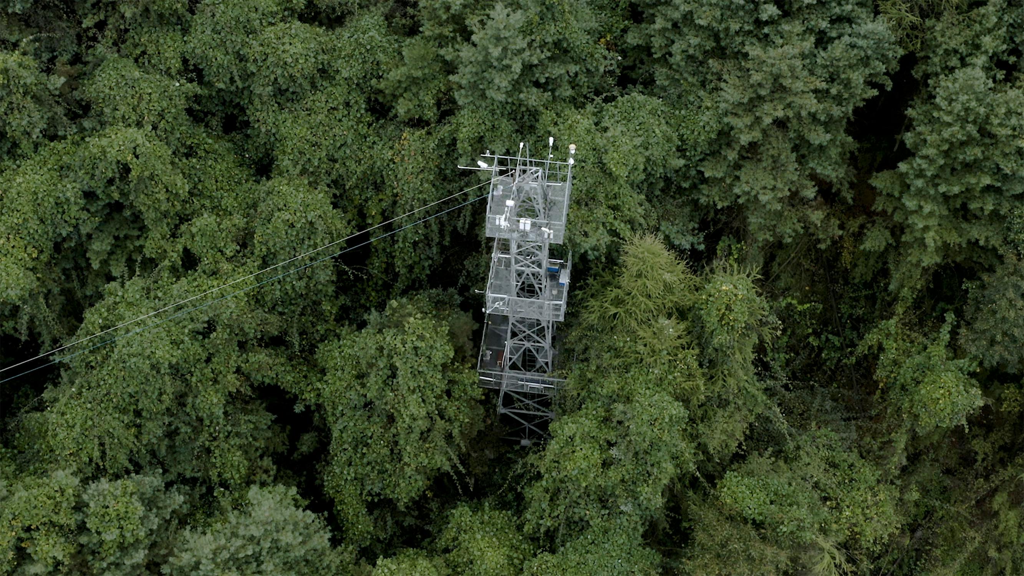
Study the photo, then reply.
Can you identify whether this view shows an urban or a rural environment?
rural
